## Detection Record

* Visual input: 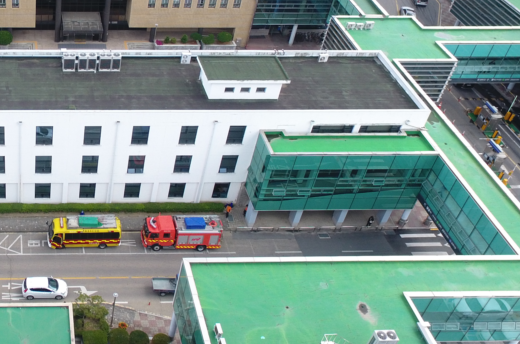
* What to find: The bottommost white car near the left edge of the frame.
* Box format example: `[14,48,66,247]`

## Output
[23,273,67,298]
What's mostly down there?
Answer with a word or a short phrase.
buildings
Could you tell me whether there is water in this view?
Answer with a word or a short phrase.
No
